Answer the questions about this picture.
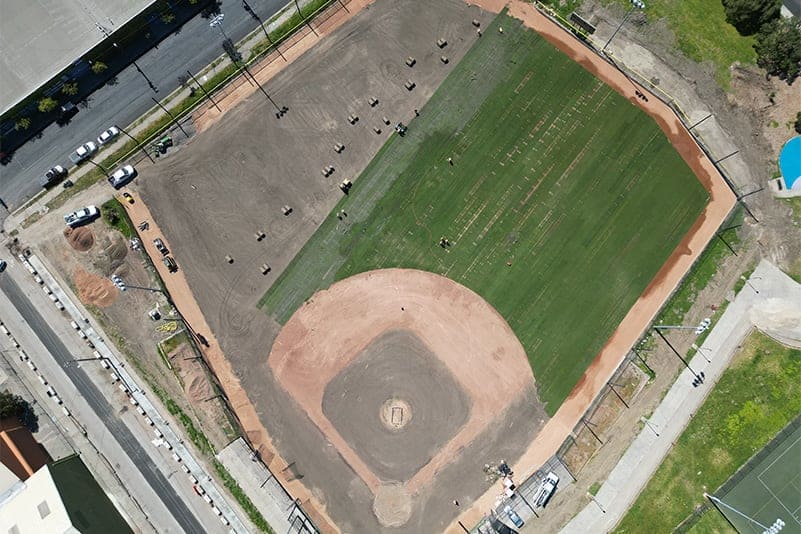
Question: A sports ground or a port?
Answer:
sports ground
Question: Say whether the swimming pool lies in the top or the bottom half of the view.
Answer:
top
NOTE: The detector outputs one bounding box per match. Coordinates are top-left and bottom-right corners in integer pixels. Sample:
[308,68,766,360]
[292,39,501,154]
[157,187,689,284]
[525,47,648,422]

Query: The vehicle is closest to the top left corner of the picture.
[56,99,79,115]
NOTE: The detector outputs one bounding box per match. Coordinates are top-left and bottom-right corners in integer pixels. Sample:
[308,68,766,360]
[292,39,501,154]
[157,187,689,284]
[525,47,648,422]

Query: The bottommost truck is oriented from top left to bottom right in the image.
[505,505,526,531]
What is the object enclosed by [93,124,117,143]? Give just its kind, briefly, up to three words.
car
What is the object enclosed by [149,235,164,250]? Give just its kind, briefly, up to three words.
work vehicle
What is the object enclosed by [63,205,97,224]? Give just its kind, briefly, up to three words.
vehicle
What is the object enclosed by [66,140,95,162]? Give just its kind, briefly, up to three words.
truck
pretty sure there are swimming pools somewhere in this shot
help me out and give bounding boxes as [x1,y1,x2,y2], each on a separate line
[768,135,801,202]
